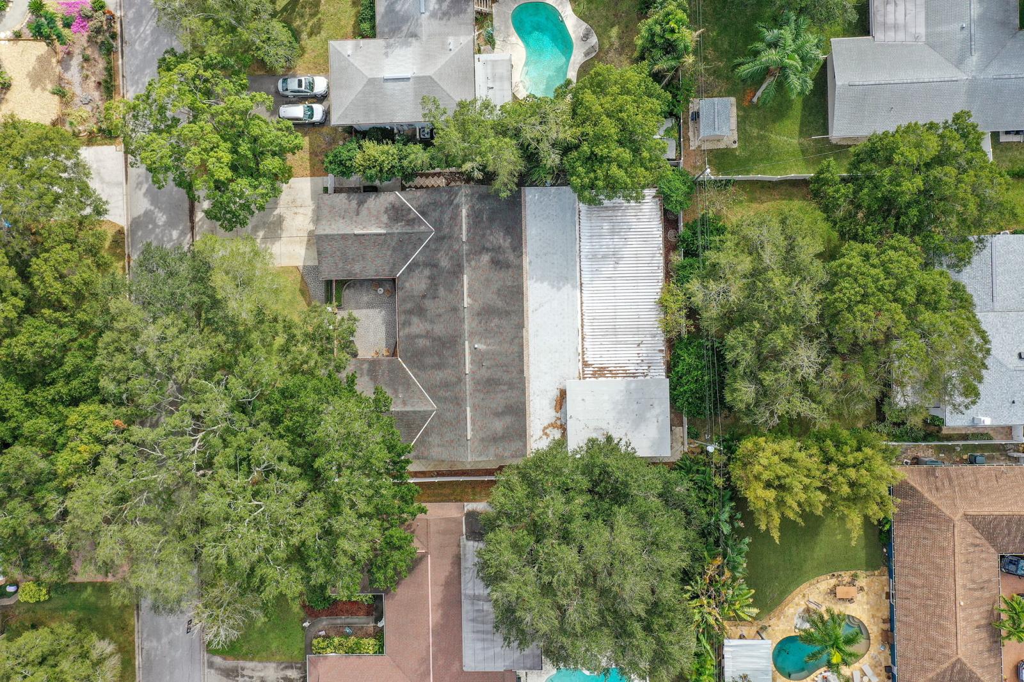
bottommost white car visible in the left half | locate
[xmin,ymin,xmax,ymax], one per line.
[279,101,326,125]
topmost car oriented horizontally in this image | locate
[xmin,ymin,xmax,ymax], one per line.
[277,72,327,97]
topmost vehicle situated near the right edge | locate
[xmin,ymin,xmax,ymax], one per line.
[1003,557,1024,579]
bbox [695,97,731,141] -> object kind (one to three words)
shed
